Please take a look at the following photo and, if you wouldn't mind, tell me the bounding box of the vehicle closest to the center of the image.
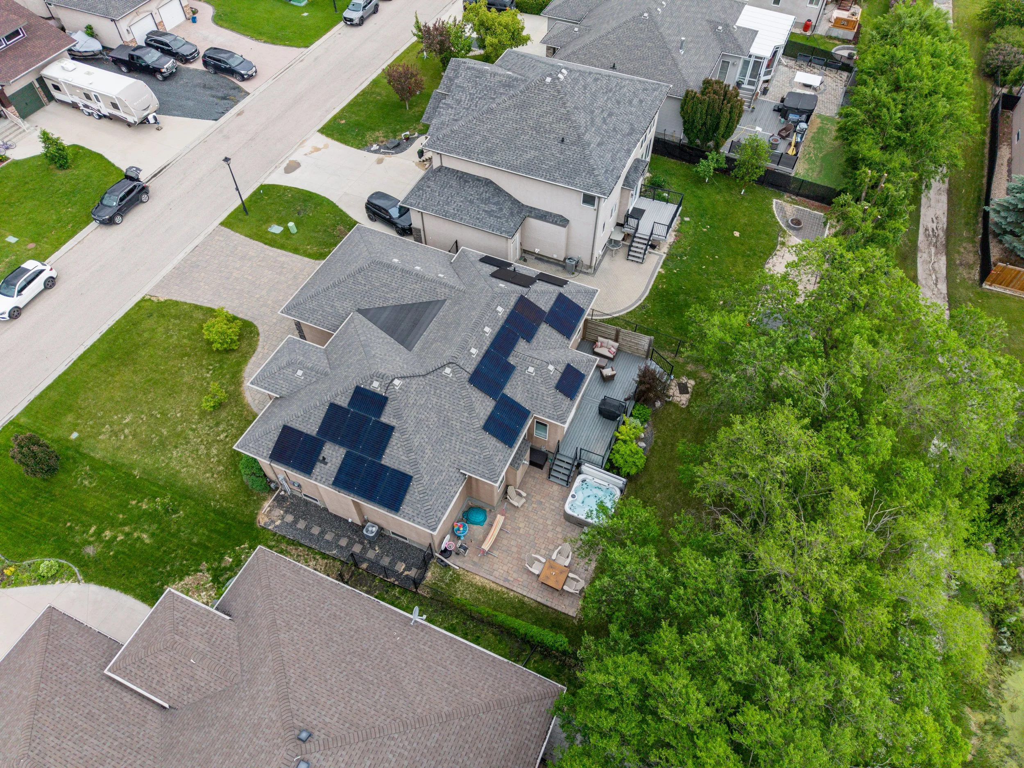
[360,190,416,237]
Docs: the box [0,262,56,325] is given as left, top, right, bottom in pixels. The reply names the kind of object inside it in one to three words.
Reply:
car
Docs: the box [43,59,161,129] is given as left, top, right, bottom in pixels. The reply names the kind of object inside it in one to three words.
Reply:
trailer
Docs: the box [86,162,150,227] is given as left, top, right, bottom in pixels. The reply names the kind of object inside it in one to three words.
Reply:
car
